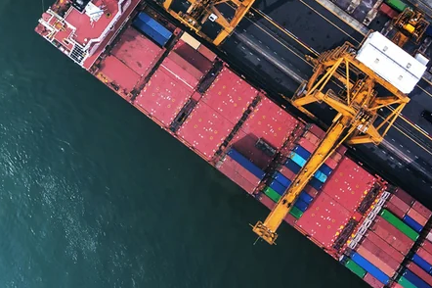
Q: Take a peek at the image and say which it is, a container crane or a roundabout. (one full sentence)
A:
There is a container crane in the scene.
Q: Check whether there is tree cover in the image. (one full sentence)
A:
No, there's no tree cover in this view.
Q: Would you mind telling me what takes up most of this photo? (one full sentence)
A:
The bulk of the photo consists of water.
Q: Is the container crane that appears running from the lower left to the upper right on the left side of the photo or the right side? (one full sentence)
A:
The container crane that appears running from the lower left to the upper right is on the right side of the image.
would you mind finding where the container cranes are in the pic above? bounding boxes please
[251,10,430,244]
[158,0,254,50]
